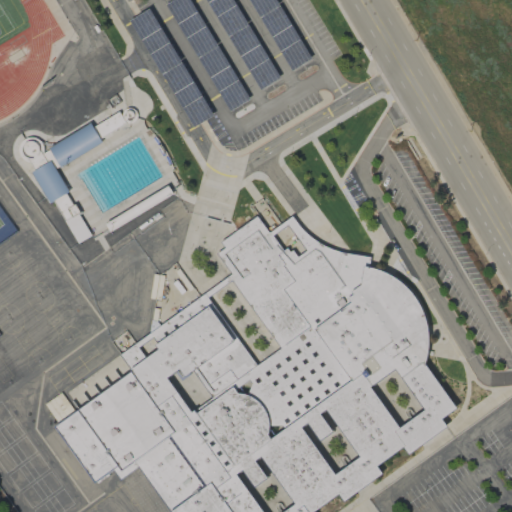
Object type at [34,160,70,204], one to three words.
building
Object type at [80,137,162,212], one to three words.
swimming pool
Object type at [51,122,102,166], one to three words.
building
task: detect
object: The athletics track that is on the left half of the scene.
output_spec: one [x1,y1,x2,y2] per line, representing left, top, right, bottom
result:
[0,0,64,120]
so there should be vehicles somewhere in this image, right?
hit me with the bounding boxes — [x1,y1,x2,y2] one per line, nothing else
[94,25,101,34]
[384,176,391,186]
